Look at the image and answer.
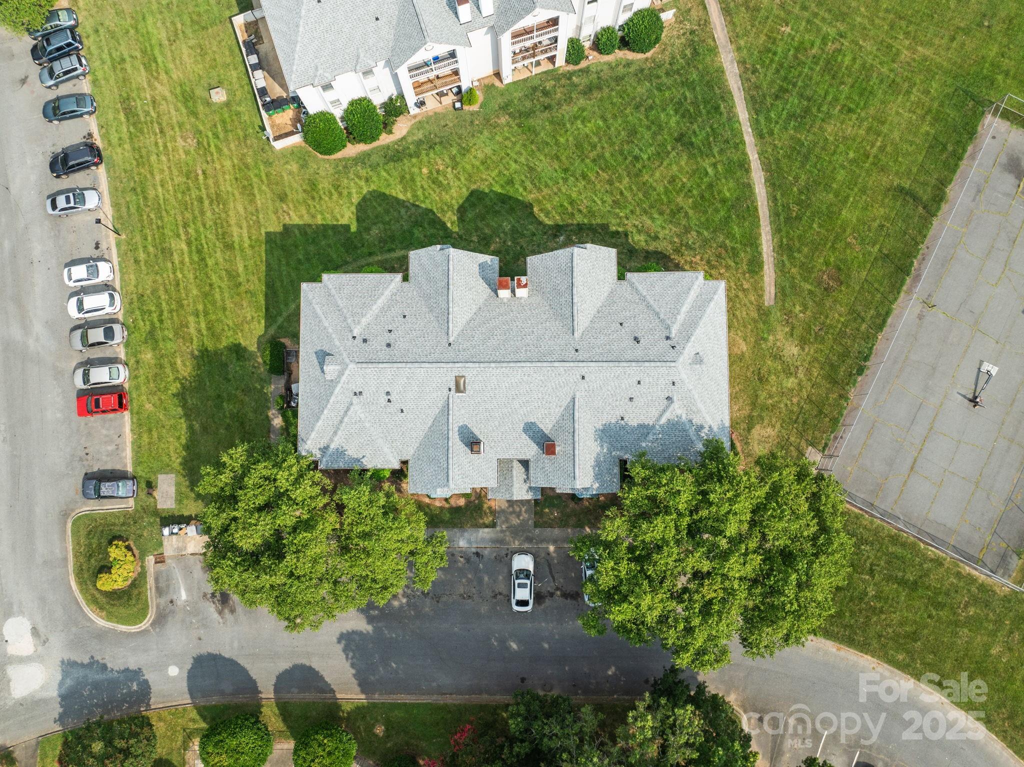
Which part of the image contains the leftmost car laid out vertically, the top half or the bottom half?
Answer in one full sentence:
You can find the leftmost car laid out vertically in the bottom half.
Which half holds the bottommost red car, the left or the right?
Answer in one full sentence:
The bottommost red car is on the left side of the image.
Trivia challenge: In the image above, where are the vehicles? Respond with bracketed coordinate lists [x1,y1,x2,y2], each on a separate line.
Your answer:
[76,392,131,417]
[29,9,84,41]
[31,29,85,64]
[71,325,130,352]
[39,55,92,90]
[46,189,104,218]
[68,290,123,318]
[62,260,117,287]
[83,476,140,502]
[44,95,98,124]
[509,552,536,613]
[50,145,105,177]
[76,364,132,389]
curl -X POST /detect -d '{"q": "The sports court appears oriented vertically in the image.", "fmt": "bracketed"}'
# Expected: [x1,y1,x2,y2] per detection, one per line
[821,114,1024,579]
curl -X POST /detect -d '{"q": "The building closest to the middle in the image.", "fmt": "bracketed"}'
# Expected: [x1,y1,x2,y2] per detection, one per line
[297,246,732,501]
